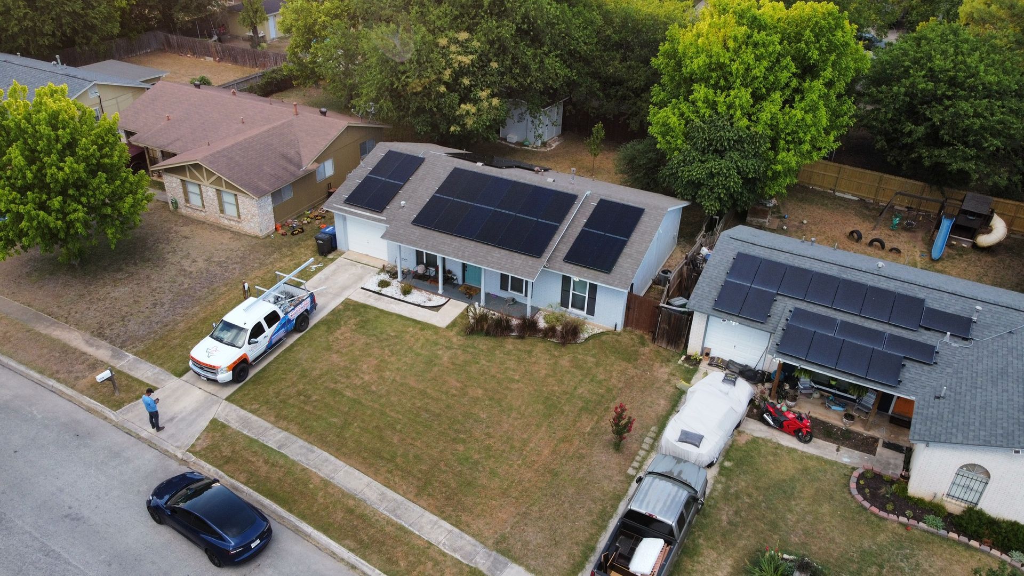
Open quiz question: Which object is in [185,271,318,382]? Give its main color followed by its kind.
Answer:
white truck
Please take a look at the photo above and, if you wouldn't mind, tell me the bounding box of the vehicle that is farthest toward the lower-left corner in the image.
[150,475,277,573]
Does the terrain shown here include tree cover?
Yes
